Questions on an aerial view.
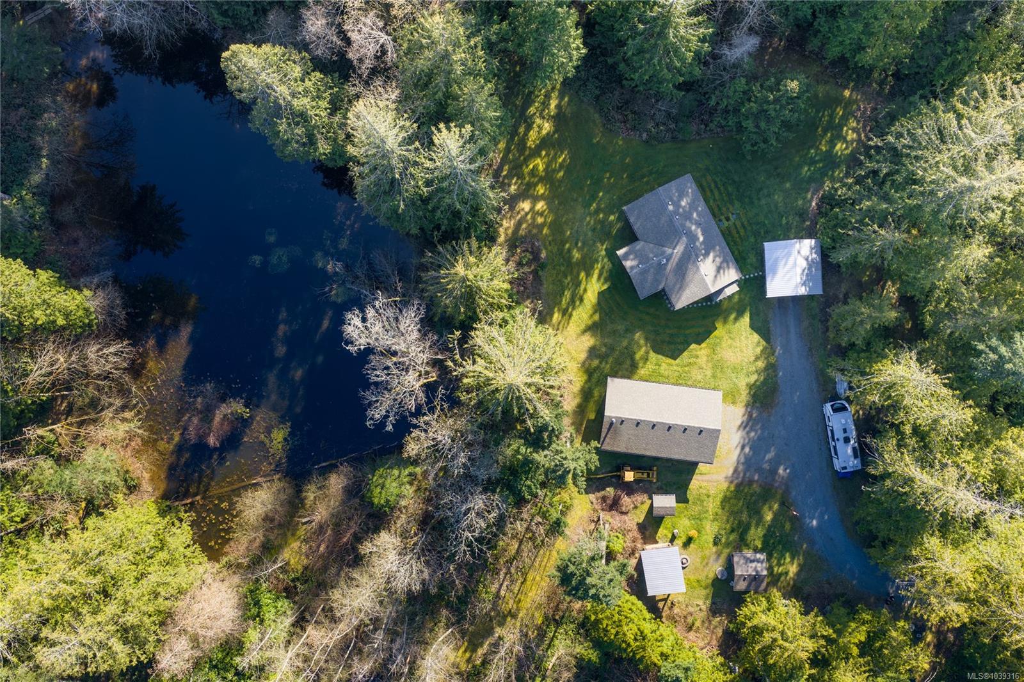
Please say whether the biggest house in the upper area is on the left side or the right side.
right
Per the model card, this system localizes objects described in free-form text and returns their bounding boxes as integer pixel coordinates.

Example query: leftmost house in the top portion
[617,174,742,312]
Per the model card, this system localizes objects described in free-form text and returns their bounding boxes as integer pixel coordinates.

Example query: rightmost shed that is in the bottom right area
[730,549,769,591]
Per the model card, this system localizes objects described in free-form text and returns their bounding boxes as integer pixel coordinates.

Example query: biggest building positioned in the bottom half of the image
[599,375,723,464]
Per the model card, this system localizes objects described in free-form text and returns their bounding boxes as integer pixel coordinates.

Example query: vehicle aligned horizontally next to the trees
[592,461,660,484]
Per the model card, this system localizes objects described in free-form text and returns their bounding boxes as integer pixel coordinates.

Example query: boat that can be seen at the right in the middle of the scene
[835,373,848,399]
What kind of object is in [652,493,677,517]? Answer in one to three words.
shed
